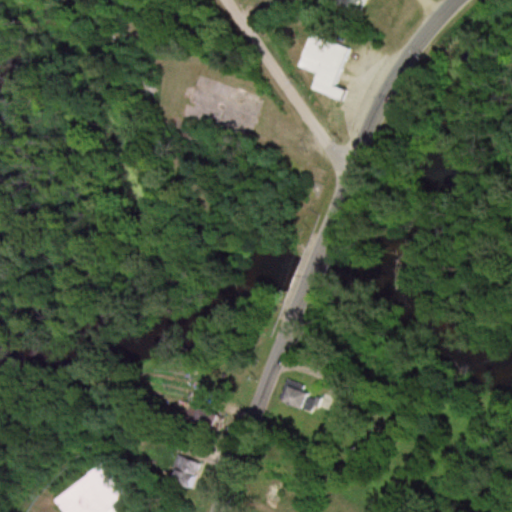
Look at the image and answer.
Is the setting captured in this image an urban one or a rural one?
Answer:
rural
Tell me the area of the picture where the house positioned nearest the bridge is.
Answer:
bottom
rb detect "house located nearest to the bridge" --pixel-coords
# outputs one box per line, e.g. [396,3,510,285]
[280,380,320,416]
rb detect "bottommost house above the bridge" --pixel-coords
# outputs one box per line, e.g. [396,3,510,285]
[300,36,350,100]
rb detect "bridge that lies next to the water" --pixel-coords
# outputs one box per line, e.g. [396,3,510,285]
[278,234,329,328]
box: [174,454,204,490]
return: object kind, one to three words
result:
house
